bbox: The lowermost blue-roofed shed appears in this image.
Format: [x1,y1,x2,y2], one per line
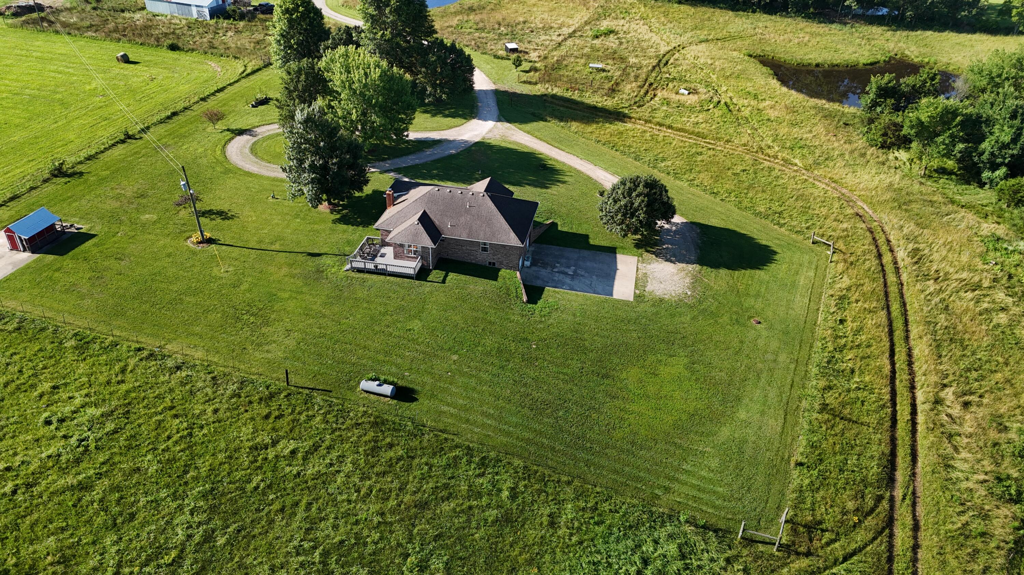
[1,206,66,252]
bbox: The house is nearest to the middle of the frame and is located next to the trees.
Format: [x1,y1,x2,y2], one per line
[373,176,541,269]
